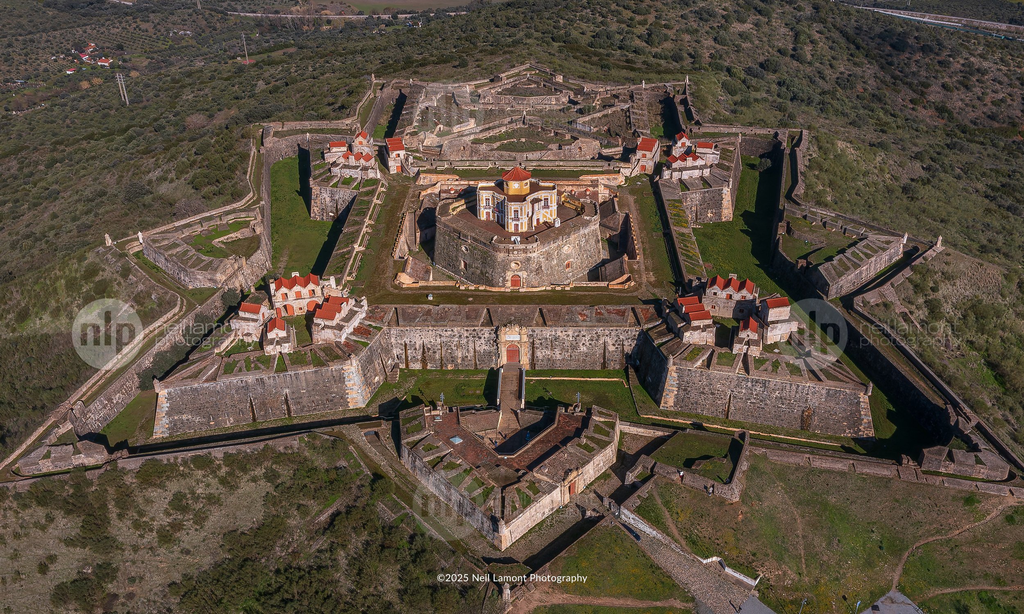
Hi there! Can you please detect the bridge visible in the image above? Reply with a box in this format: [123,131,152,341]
[492,367,522,446]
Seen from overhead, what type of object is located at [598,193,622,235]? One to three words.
shed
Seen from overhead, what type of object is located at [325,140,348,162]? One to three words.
house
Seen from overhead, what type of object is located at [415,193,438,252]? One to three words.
shed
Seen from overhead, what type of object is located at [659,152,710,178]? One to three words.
house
